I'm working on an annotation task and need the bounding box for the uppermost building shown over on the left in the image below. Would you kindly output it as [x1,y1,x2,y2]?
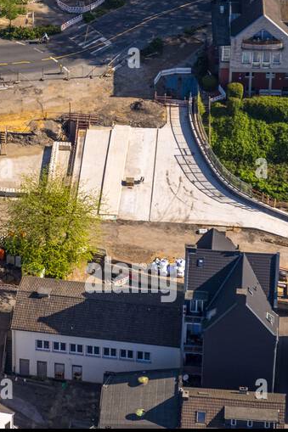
[11,266,188,386]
